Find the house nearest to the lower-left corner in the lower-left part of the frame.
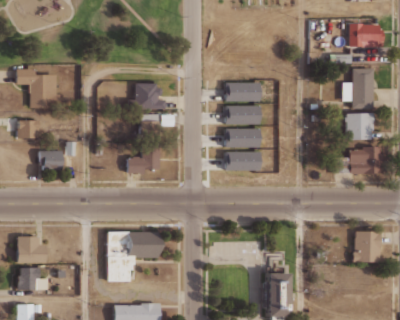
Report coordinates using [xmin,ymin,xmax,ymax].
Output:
[16,305,42,320]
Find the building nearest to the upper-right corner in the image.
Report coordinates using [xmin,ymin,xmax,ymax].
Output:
[350,24,385,47]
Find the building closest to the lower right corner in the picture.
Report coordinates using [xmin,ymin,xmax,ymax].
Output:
[354,232,383,264]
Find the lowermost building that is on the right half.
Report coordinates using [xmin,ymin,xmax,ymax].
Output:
[270,274,293,320]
